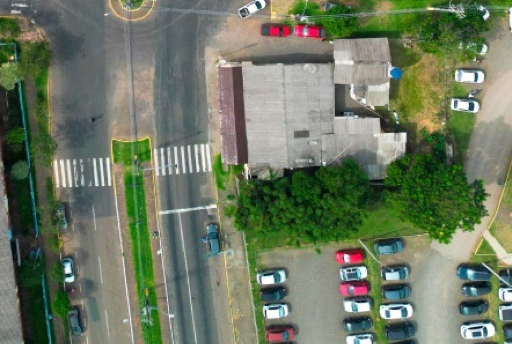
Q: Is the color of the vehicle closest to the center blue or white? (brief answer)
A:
blue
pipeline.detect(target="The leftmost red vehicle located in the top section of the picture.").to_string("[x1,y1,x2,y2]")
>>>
[260,22,291,38]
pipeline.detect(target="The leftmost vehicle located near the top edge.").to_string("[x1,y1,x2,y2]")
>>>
[237,0,268,20]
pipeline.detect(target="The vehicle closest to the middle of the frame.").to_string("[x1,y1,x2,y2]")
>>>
[201,222,221,256]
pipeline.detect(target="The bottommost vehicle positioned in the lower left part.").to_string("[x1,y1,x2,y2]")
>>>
[66,304,86,337]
